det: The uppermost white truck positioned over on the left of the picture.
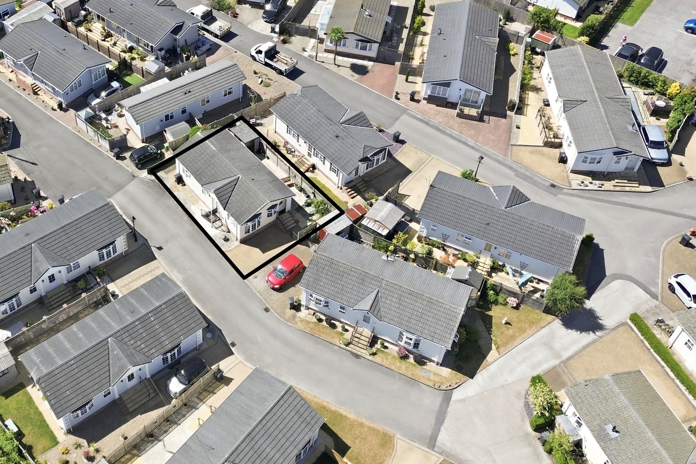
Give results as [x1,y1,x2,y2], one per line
[188,2,233,33]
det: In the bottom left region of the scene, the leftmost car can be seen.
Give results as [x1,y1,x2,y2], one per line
[165,355,212,398]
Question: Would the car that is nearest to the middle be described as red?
Yes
